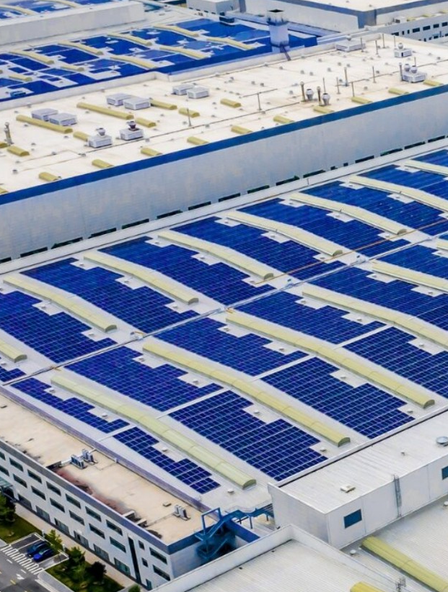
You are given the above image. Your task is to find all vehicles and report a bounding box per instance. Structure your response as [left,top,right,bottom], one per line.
[32,544,55,559]
[25,537,48,551]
